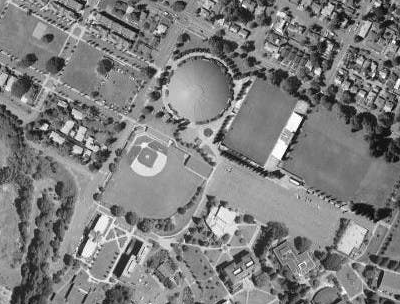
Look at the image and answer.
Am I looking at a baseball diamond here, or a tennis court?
baseball diamond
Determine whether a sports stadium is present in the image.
Yes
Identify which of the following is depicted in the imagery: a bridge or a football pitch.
football pitch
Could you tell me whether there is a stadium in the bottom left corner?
No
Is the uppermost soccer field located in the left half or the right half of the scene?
right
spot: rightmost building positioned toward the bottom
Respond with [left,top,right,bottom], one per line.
[337,220,368,259]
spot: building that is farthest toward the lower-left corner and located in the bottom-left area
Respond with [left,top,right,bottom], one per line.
[77,213,109,257]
